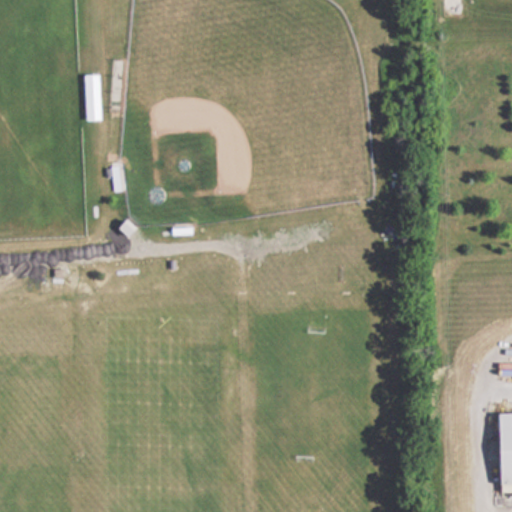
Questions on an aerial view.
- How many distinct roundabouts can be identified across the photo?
0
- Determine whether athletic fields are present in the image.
Yes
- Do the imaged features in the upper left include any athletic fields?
Yes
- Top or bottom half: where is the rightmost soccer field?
bottom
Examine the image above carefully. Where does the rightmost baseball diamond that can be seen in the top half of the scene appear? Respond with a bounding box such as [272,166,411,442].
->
[122,0,374,226]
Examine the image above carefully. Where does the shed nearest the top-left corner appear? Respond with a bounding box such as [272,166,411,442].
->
[84,73,104,122]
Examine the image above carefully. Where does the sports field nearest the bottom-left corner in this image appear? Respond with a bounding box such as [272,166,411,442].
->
[106,316,220,512]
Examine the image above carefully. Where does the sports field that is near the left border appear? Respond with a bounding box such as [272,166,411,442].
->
[0,0,86,240]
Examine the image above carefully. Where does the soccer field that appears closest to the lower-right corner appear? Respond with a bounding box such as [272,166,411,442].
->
[252,311,372,512]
